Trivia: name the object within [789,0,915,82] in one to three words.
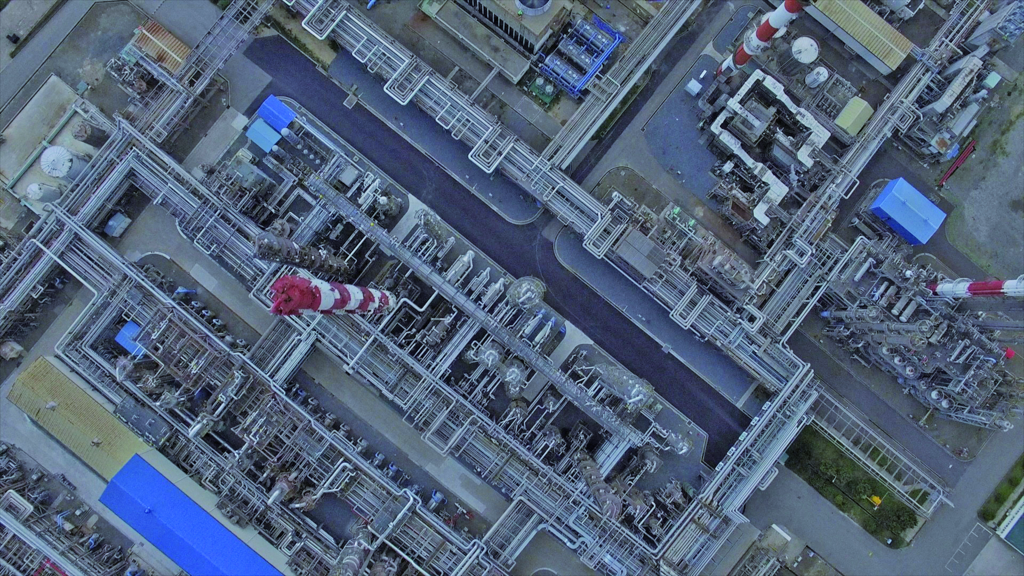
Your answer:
building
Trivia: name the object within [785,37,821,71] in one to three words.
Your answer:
storage tank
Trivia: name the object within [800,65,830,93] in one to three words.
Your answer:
storage tank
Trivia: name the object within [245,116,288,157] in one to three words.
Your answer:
shed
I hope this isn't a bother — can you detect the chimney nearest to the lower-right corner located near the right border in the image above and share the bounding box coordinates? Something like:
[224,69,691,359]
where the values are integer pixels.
[924,278,1024,301]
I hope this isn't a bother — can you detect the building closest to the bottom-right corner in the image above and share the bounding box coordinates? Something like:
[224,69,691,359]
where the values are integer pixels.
[991,519,1024,562]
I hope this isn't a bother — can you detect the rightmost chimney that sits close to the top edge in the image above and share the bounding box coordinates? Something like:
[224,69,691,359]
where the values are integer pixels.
[710,0,810,79]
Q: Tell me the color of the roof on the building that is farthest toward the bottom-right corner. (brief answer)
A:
blue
